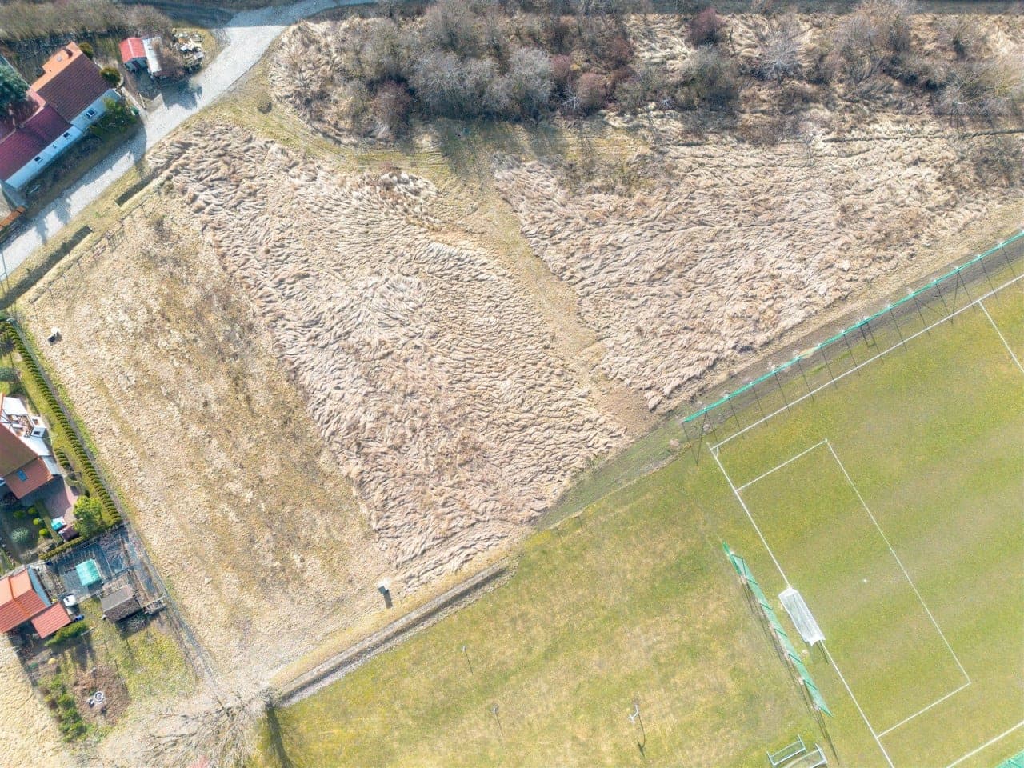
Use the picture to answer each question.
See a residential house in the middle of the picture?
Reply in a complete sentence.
No, looking in the middle of the picture, there is no residential house.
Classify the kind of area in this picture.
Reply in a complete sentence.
The area seen from above is a sports ground.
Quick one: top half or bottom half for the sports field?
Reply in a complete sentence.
It is in the bottom half that the sports field appears.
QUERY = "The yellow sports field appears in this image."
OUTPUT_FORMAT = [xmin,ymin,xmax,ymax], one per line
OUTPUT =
[270,259,1024,768]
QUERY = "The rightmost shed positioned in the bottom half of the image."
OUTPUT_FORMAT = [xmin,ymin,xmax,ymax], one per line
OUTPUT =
[98,579,148,624]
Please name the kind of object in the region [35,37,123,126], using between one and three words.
house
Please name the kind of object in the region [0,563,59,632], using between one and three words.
house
